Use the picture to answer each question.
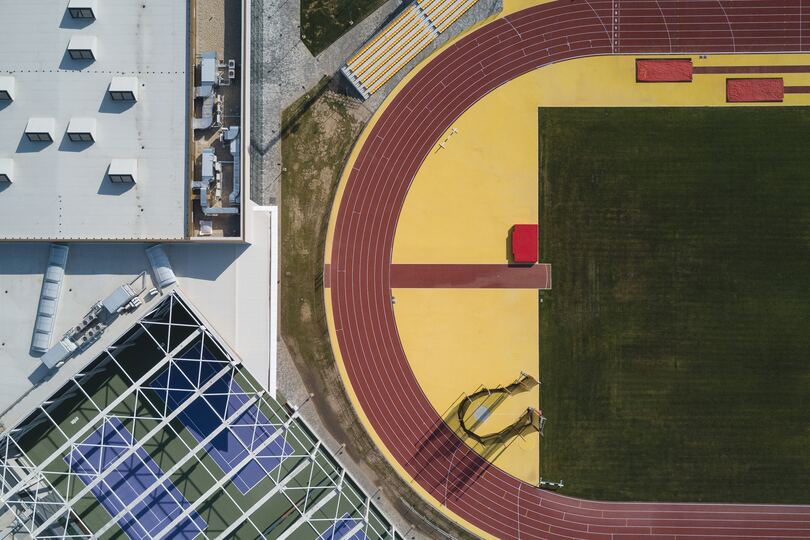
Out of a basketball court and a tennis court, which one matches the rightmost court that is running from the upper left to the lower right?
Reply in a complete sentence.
I'd identify the rightmost court that is running from the upper left to the lower right as a tennis court.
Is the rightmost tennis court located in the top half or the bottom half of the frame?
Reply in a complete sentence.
It is in the bottom half that the rightmost tennis court appears.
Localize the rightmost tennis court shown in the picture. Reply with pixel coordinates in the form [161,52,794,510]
[316,513,369,540]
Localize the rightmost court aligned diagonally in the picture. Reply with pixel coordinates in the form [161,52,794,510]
[150,341,294,495]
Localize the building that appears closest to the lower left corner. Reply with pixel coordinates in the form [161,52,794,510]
[0,199,281,445]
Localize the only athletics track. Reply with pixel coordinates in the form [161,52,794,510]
[324,0,810,540]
